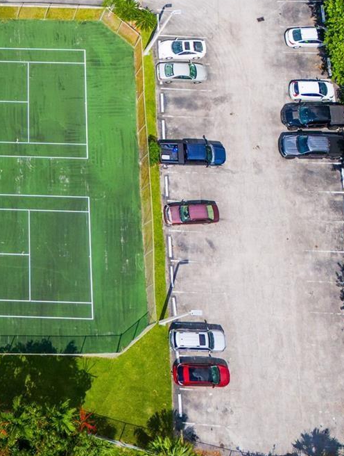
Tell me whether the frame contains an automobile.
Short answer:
Yes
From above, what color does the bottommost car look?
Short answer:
red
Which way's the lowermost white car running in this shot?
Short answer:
from left to right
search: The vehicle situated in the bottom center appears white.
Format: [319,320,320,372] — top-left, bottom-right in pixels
[168,327,226,355]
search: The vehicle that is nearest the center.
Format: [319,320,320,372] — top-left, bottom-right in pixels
[163,201,221,226]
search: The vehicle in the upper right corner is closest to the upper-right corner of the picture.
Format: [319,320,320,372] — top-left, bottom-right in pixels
[282,26,335,50]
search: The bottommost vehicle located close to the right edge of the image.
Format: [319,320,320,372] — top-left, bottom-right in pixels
[276,134,344,160]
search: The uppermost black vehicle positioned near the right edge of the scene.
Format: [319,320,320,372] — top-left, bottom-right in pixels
[278,104,344,131]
